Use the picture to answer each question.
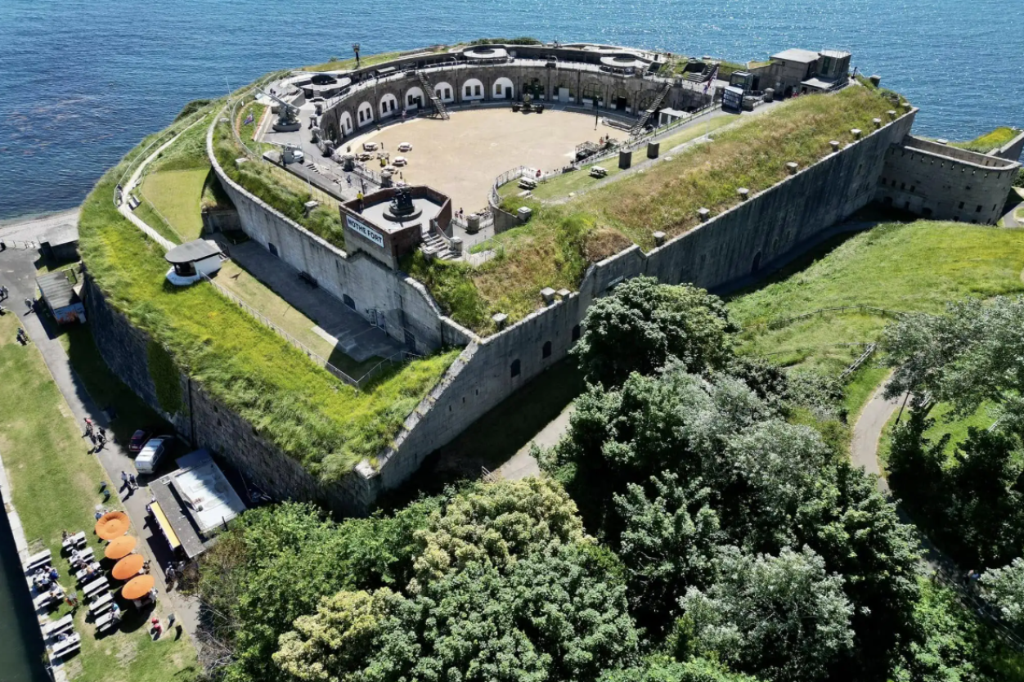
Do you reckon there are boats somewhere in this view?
No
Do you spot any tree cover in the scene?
Yes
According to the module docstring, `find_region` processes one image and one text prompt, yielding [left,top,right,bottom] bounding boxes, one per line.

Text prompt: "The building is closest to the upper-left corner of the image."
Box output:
[38,225,80,265]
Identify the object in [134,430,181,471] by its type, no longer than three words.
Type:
van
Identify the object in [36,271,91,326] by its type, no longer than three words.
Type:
shed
